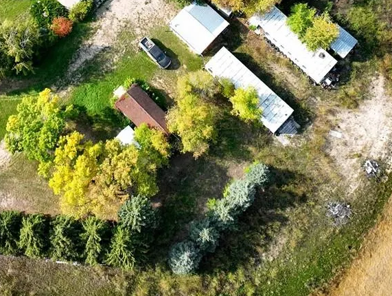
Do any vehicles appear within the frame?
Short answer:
Yes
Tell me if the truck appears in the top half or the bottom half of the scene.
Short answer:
top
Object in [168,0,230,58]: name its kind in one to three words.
building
